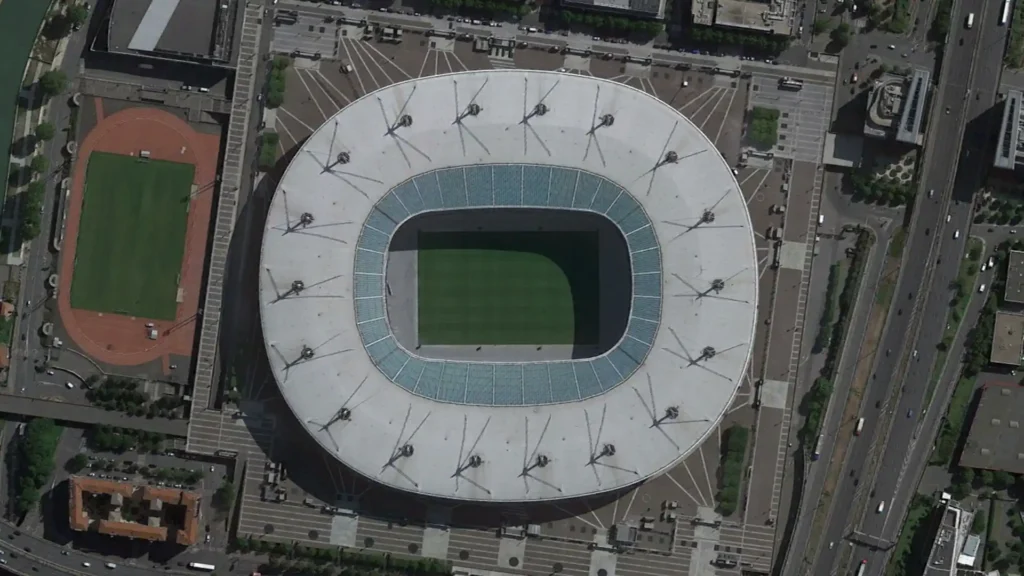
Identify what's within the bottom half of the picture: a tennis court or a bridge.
bridge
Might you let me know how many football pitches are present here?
2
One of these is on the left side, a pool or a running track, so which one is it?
running track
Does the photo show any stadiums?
Yes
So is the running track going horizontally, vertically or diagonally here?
vertically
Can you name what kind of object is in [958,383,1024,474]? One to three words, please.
building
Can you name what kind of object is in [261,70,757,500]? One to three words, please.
stadium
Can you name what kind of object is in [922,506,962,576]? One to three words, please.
building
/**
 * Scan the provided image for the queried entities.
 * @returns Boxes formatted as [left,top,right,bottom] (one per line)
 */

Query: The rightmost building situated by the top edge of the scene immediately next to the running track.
[91,0,246,71]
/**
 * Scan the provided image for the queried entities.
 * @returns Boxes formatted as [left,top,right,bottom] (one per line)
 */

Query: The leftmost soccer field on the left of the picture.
[70,152,195,320]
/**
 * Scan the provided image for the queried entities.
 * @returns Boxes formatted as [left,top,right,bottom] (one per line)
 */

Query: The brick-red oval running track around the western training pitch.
[61,97,220,376]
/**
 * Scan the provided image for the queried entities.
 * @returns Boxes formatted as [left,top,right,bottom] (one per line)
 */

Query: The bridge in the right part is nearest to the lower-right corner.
[814,0,1014,576]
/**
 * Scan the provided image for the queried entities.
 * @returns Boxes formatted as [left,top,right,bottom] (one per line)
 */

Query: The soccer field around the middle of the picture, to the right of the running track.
[417,231,600,348]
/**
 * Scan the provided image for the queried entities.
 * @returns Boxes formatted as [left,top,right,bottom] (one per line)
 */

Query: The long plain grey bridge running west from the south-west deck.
[0,395,187,439]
